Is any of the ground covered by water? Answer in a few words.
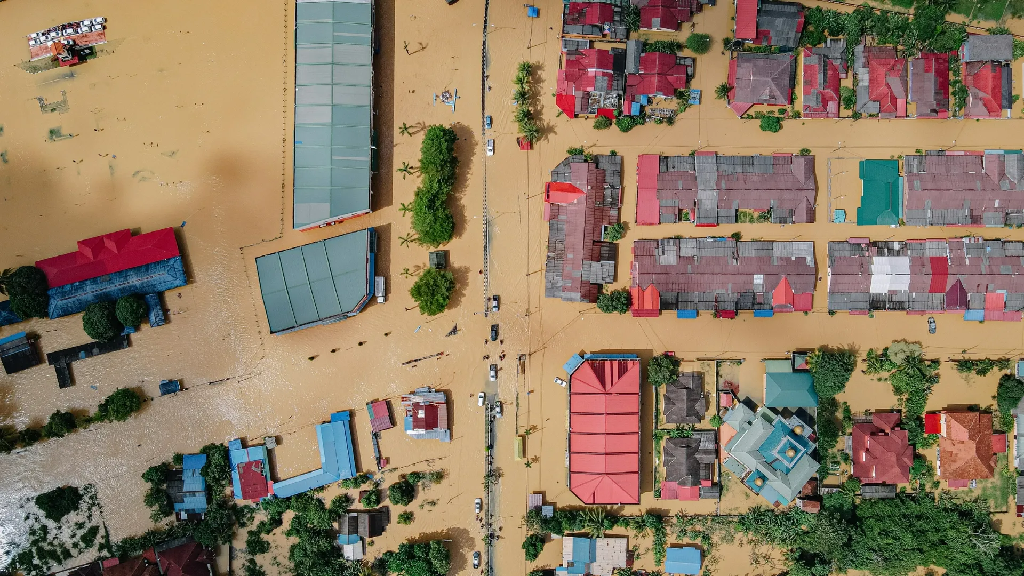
Yes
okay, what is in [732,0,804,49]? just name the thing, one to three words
house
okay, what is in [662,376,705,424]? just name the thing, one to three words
house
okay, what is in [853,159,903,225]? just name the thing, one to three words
building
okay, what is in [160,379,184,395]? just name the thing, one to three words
building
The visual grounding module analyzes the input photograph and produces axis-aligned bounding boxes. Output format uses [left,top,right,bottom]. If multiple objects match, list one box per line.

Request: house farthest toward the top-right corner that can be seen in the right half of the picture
[958,35,1012,118]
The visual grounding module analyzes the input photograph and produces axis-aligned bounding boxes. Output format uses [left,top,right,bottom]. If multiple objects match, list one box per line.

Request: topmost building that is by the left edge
[39,38,80,67]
